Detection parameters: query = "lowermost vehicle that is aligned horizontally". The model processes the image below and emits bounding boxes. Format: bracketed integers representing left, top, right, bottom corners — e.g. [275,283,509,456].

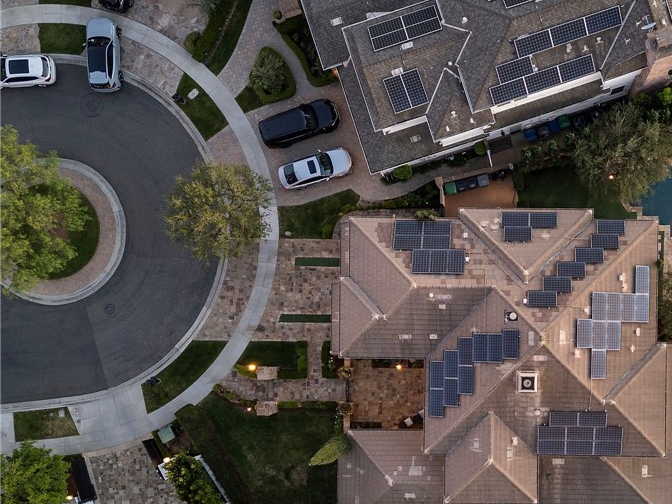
[275,145,354,189]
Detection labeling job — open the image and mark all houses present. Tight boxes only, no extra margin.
[330,208,672,504]
[302,0,672,176]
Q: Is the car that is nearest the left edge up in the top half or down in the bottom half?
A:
top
